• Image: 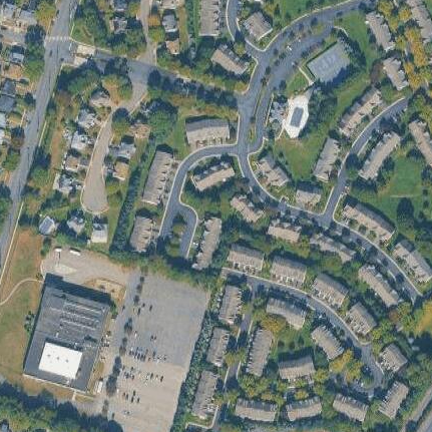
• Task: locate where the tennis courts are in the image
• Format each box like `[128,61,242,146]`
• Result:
[306,42,352,86]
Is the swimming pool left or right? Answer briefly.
right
